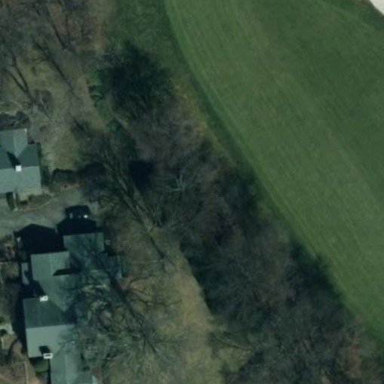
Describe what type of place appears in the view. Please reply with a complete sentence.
This looks like a golf course.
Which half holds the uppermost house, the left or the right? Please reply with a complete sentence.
It is on the left.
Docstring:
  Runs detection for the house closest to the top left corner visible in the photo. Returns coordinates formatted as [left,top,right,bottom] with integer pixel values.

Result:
[0,126,44,200]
